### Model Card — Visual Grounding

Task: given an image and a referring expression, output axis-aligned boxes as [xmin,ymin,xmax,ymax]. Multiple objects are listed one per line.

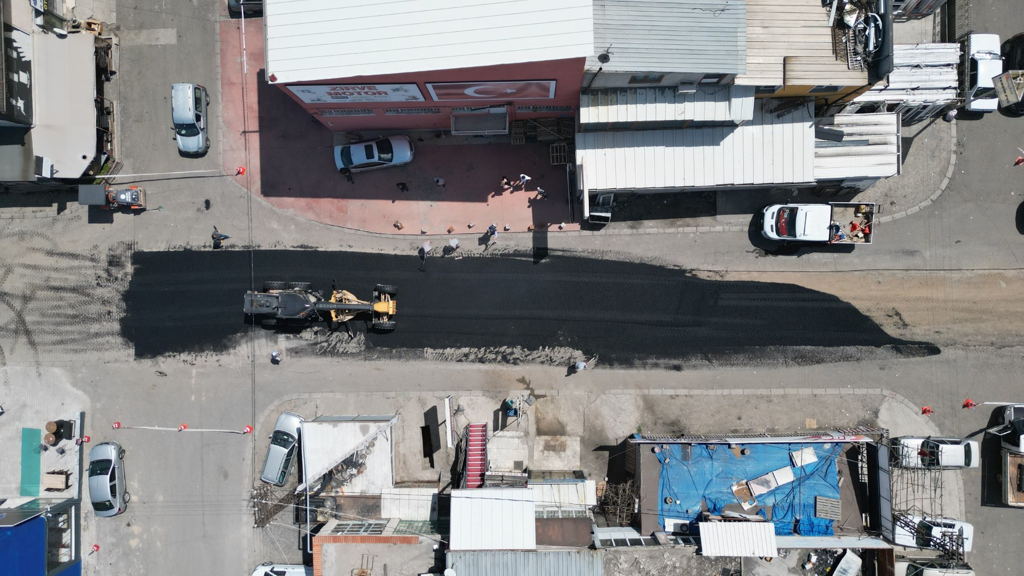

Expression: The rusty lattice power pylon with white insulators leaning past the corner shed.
[255,477,312,530]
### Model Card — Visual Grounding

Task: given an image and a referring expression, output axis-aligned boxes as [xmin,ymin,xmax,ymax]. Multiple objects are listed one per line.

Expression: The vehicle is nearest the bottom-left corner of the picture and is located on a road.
[87,439,133,517]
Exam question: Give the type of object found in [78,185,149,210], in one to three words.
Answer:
work vehicle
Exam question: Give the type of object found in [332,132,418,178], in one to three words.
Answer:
car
